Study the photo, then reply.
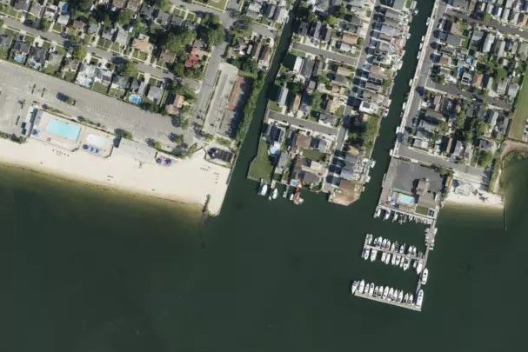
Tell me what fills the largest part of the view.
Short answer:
water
